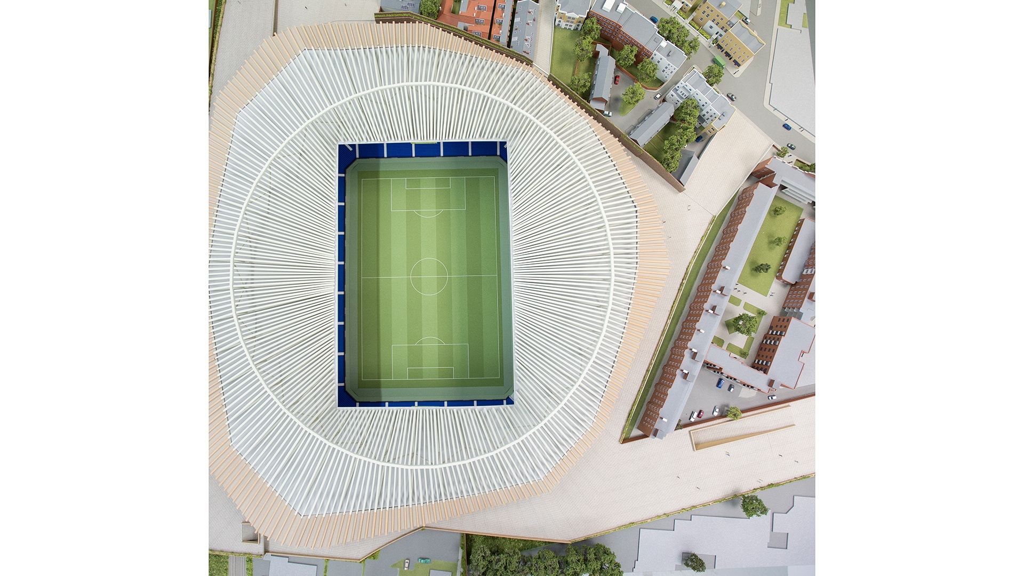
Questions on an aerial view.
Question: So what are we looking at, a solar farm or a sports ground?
sports ground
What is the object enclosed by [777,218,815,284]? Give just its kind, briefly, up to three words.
building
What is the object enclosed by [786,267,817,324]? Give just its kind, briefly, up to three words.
building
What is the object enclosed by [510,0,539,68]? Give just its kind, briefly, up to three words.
house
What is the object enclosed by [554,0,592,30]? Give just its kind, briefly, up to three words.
house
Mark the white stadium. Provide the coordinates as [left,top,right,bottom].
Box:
[208,22,670,549]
